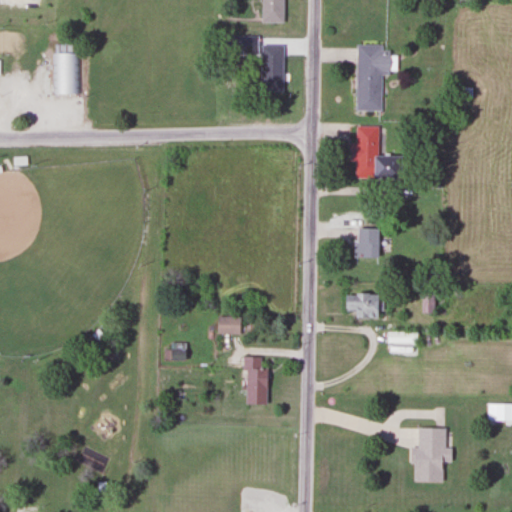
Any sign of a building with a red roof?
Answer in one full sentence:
Yes, there's a building with a red roof down there.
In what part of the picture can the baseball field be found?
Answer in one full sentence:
The baseball field is located in the left region of the scene.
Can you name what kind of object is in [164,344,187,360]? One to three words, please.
shed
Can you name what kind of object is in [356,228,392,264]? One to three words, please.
house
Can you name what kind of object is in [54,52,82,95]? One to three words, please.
barn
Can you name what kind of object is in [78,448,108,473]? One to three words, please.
building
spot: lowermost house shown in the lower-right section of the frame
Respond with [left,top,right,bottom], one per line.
[408,428,454,484]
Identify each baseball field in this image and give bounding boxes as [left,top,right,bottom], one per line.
[0,159,145,358]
